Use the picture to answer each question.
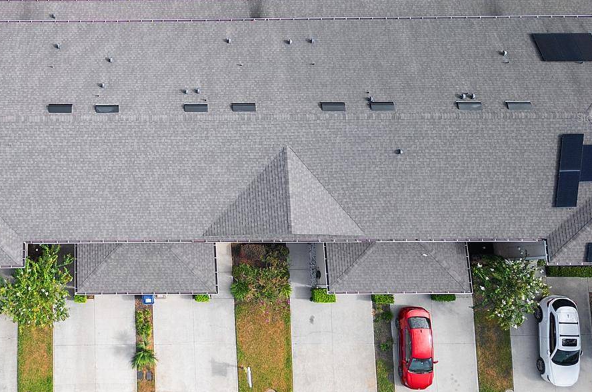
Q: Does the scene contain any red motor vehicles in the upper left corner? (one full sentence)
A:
No, I see no red motor vehicle in the upper left corner.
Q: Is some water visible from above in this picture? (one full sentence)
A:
No, water can't be seen anywhere here.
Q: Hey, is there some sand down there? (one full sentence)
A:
No, there's no sand in this view.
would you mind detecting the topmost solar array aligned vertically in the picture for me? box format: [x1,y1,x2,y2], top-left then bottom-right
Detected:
[554,136,592,209]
